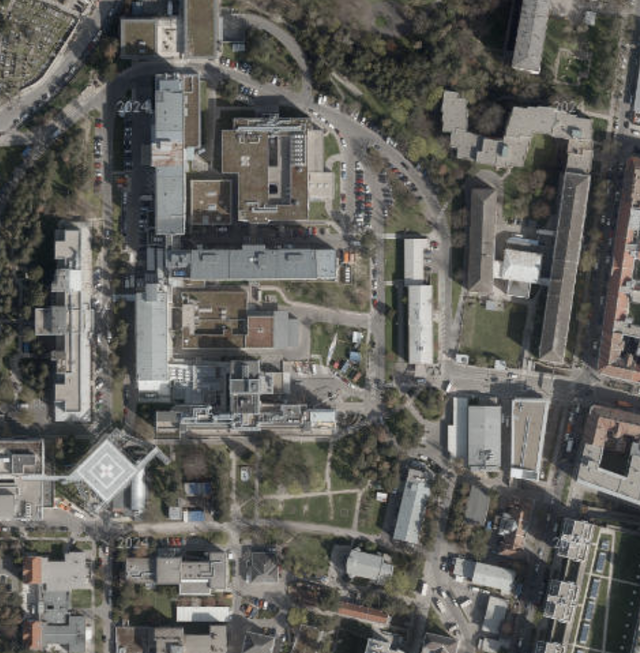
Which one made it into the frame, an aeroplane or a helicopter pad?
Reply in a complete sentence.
Of the two, only a helicopter pad appears.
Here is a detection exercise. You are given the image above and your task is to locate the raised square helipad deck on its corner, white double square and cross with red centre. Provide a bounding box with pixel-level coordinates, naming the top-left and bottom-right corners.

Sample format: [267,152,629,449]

[64,428,171,514]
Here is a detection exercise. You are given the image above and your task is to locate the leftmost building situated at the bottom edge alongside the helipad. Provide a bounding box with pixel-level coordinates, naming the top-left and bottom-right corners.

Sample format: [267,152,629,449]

[21,551,93,653]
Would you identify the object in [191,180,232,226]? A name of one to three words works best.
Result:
building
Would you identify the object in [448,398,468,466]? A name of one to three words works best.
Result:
building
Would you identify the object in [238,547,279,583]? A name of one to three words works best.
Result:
house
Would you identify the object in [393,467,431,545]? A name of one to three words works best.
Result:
house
